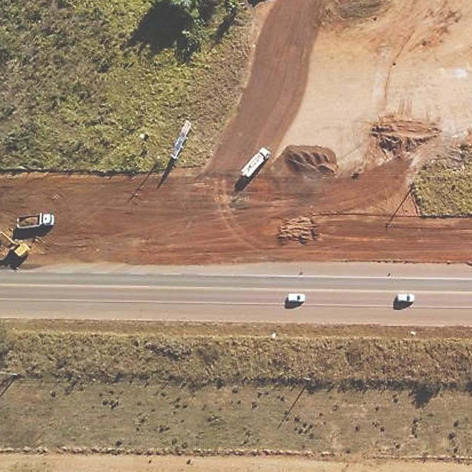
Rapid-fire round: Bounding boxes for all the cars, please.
[398,294,415,302]
[288,293,306,302]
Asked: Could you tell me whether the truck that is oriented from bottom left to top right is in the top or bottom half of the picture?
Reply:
top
